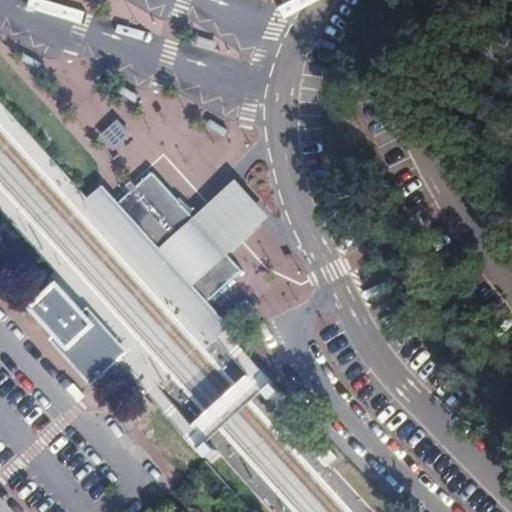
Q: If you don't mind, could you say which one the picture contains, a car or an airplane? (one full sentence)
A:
The one in the frame is a car.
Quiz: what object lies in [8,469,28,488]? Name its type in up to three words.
car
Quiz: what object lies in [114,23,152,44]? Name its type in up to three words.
vehicle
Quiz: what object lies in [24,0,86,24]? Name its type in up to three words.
bus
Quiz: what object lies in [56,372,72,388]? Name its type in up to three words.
car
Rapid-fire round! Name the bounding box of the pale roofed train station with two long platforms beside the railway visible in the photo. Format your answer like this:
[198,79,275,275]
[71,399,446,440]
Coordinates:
[0,103,373,512]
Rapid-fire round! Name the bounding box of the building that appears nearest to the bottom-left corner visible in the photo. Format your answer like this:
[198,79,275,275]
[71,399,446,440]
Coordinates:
[26,282,124,382]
